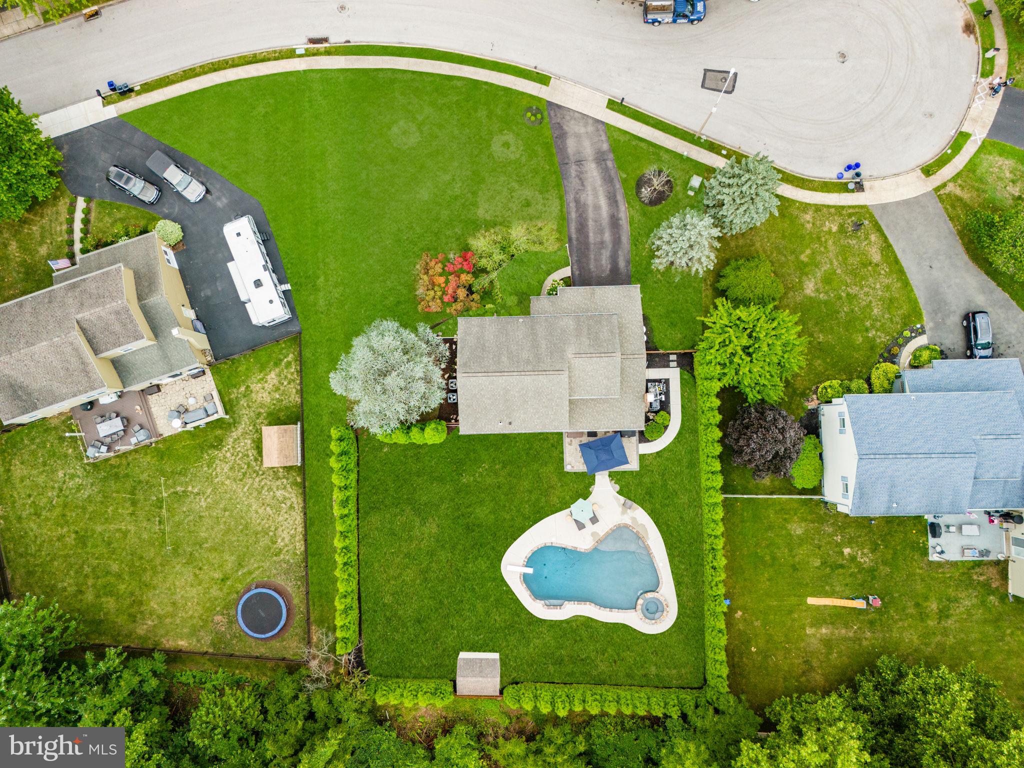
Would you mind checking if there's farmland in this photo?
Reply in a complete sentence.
No, farmland can't be seen anywhere here.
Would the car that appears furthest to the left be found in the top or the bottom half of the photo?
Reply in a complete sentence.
Seen from above, the car that appears furthest to the left lies in the top half of the view.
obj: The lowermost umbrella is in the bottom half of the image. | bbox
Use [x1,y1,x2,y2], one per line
[571,498,594,524]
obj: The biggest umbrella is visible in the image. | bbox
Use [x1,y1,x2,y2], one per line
[578,433,629,475]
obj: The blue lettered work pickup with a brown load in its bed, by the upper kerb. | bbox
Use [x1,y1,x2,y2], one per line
[645,0,708,26]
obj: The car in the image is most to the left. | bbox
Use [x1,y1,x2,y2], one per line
[108,165,164,205]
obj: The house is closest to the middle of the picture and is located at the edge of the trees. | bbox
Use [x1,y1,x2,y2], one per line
[457,283,655,436]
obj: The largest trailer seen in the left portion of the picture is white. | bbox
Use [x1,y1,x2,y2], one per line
[226,216,296,326]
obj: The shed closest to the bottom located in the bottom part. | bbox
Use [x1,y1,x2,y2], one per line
[457,649,499,693]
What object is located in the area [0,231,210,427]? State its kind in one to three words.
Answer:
house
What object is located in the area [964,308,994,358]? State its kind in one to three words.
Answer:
car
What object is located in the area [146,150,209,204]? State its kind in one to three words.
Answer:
truck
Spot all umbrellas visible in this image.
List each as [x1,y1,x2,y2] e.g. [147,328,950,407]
[571,498,594,524]
[578,433,629,475]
